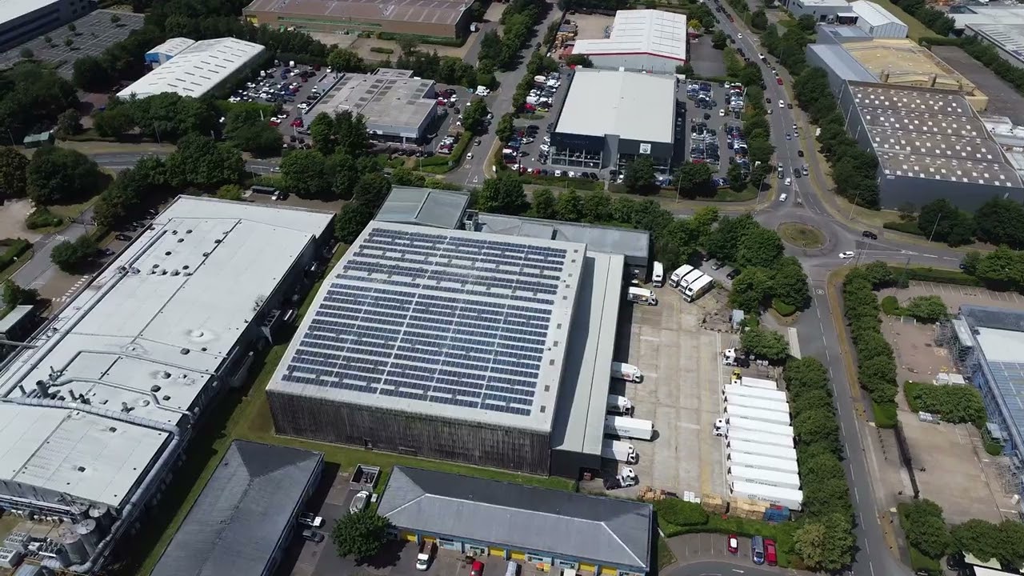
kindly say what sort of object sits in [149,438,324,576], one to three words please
building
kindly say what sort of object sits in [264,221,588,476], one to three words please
warehouse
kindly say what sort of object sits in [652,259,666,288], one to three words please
vehicle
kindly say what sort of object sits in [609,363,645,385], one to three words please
truck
